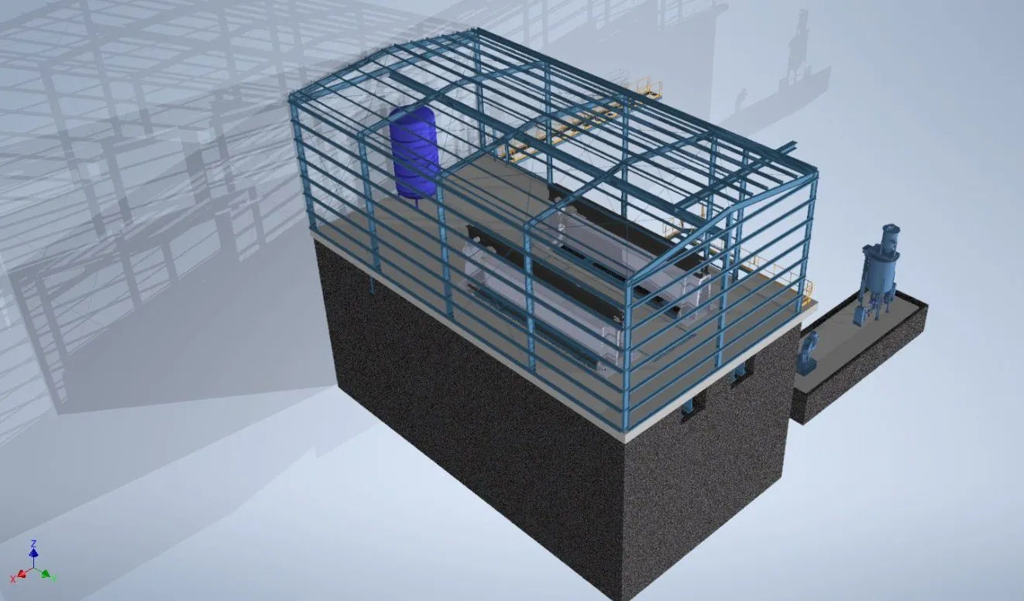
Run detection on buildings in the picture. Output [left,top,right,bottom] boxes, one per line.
[290,24,819,436]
